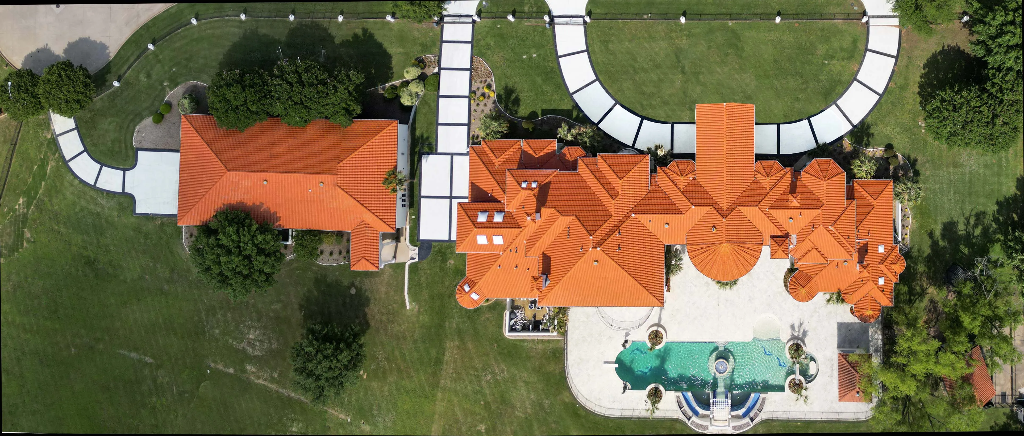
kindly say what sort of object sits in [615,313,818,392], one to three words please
swimming pool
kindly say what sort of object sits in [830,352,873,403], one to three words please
building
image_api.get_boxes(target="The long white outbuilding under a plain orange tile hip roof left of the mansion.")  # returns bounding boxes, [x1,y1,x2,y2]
[176,114,404,271]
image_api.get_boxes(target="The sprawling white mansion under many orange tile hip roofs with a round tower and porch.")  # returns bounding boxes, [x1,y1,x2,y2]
[455,103,906,324]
